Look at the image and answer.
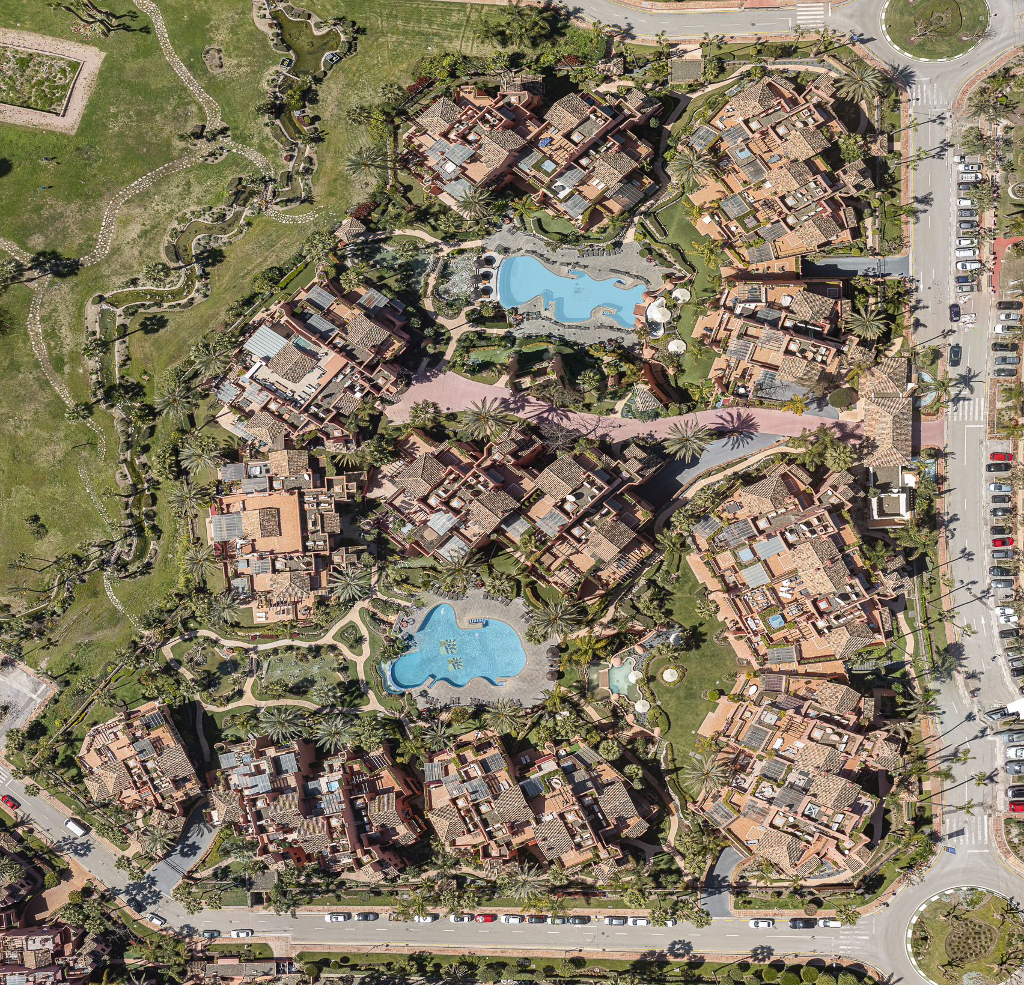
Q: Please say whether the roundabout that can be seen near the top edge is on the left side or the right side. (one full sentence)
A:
The roundabout that can be seen near the top edge is on the right side of the image.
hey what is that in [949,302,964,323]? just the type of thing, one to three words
car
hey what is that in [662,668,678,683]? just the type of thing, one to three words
umbrella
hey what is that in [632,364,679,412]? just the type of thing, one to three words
house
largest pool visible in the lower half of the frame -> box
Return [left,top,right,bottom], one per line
[387,602,529,692]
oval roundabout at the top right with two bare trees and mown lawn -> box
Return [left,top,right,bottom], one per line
[879,0,992,63]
